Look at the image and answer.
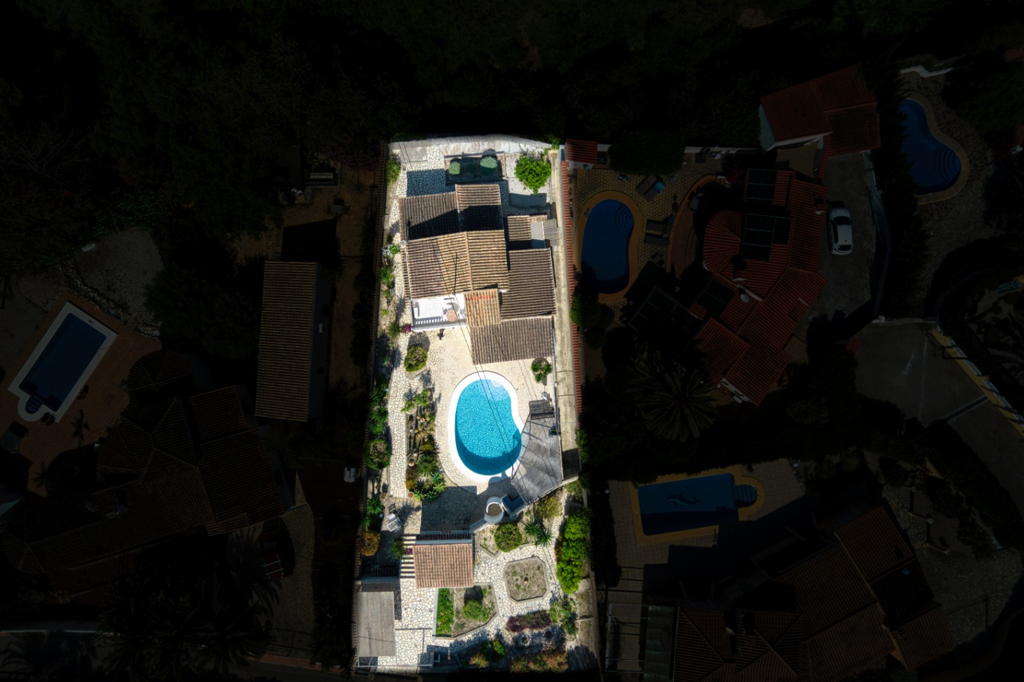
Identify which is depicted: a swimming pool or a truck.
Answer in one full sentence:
There is a swimming pool in the scene.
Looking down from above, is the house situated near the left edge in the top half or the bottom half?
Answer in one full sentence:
The house situated near the left edge sits in the bottom half of the picture.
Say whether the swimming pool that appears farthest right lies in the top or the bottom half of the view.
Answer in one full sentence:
Seen from above, the swimming pool that appears farthest right lies in the top half of the view.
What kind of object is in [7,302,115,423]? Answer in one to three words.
swimming pool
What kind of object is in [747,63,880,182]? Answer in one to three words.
house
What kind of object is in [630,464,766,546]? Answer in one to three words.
swimming pool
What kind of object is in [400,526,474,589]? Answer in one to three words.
building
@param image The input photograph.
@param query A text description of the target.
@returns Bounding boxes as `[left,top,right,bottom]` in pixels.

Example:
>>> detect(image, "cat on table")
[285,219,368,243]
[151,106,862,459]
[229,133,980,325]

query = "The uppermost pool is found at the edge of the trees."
[883,91,971,204]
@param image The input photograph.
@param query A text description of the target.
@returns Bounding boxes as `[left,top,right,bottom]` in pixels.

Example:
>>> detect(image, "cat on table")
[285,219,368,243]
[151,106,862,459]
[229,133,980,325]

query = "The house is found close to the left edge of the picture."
[0,350,296,574]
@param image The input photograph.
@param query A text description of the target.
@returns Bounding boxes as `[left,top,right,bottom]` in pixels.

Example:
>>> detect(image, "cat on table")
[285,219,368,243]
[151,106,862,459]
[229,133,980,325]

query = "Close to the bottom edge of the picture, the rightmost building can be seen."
[670,501,956,682]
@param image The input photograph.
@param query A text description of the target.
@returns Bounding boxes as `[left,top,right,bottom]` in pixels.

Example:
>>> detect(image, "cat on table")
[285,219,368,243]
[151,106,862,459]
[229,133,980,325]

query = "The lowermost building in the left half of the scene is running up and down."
[357,560,405,657]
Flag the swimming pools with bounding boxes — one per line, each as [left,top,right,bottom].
[7,302,115,423]
[883,91,971,204]
[448,371,529,483]
[574,190,643,303]
[630,464,766,546]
